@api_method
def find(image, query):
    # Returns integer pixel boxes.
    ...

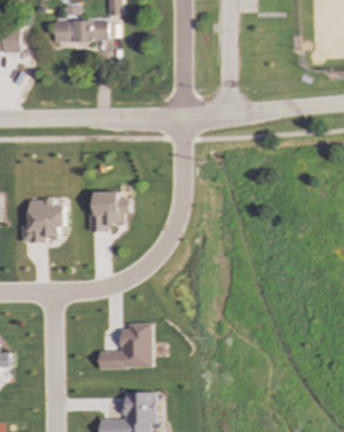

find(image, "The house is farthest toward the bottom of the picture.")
[96,392,159,432]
